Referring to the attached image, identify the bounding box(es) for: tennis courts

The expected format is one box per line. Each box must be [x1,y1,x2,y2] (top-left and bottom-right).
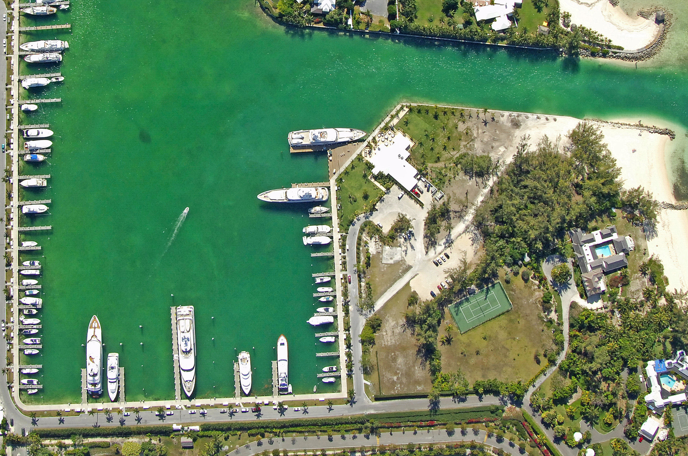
[448,282,514,333]
[670,406,688,434]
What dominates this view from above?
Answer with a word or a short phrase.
water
